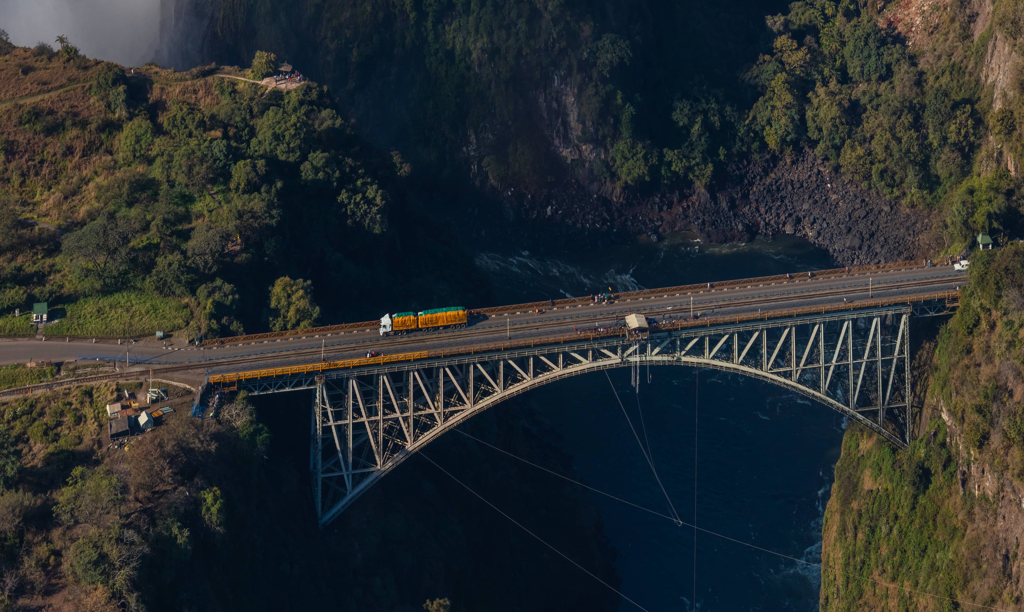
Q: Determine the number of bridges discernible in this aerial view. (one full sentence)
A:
Altogether the scene contains 1 bridge.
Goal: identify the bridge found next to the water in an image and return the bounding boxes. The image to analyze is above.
[193,253,988,529]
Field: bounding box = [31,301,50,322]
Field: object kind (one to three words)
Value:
shed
